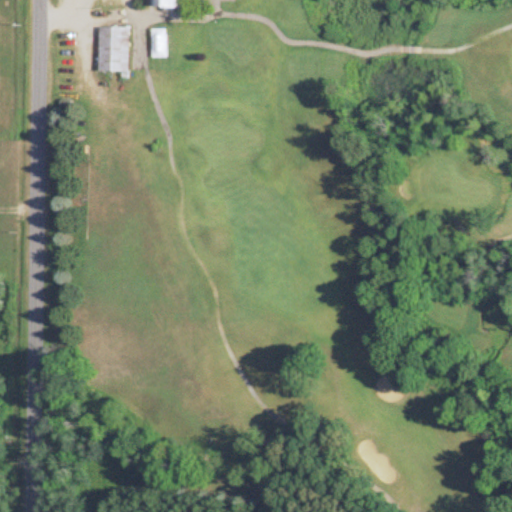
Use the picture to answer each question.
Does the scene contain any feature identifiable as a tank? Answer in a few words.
No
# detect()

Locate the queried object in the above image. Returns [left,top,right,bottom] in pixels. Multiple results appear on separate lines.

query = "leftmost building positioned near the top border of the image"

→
[98,25,133,78]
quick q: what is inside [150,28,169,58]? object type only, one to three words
building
